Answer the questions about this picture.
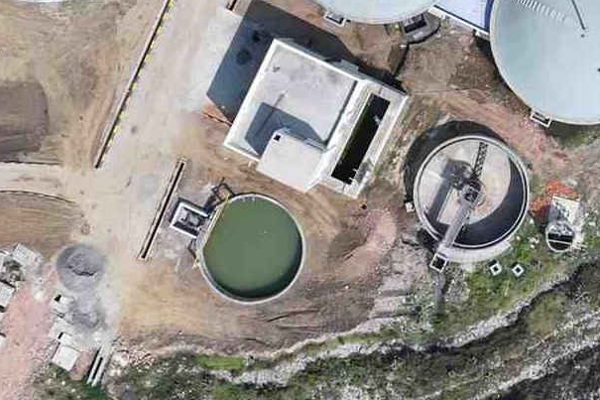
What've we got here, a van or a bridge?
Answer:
bridge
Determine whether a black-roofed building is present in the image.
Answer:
No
